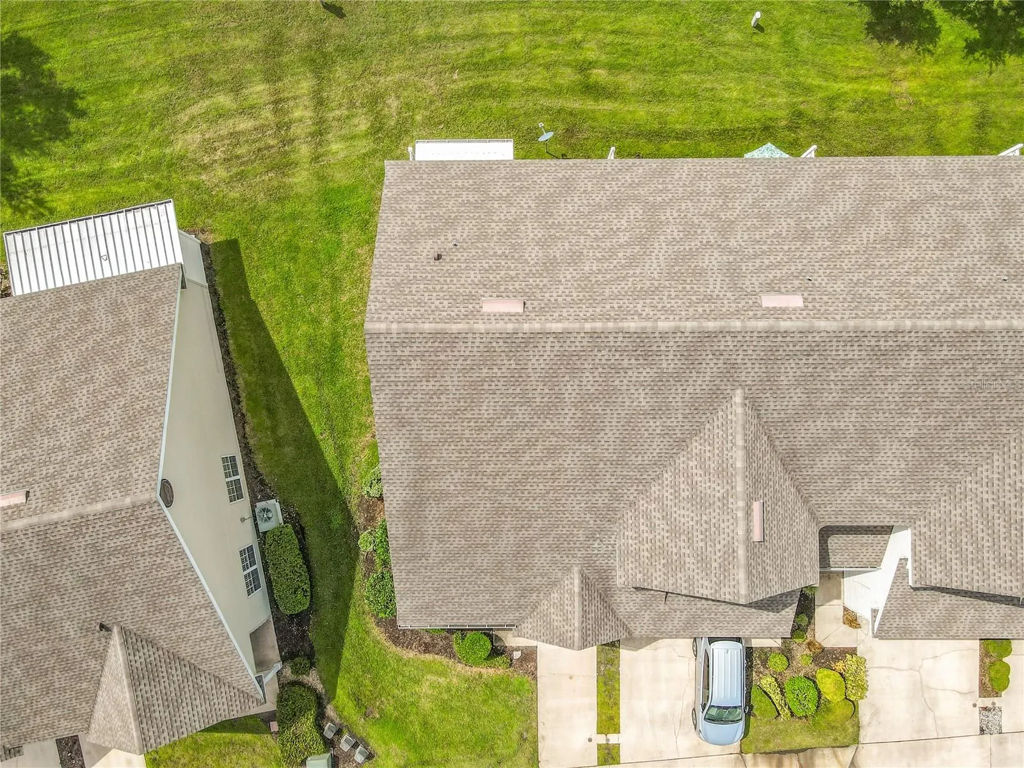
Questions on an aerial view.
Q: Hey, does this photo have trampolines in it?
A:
No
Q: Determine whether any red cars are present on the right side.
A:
No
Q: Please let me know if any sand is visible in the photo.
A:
No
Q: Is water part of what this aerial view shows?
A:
No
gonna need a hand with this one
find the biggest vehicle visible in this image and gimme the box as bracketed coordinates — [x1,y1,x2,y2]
[692,637,752,748]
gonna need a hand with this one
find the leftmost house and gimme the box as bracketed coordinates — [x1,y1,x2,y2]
[0,197,287,760]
